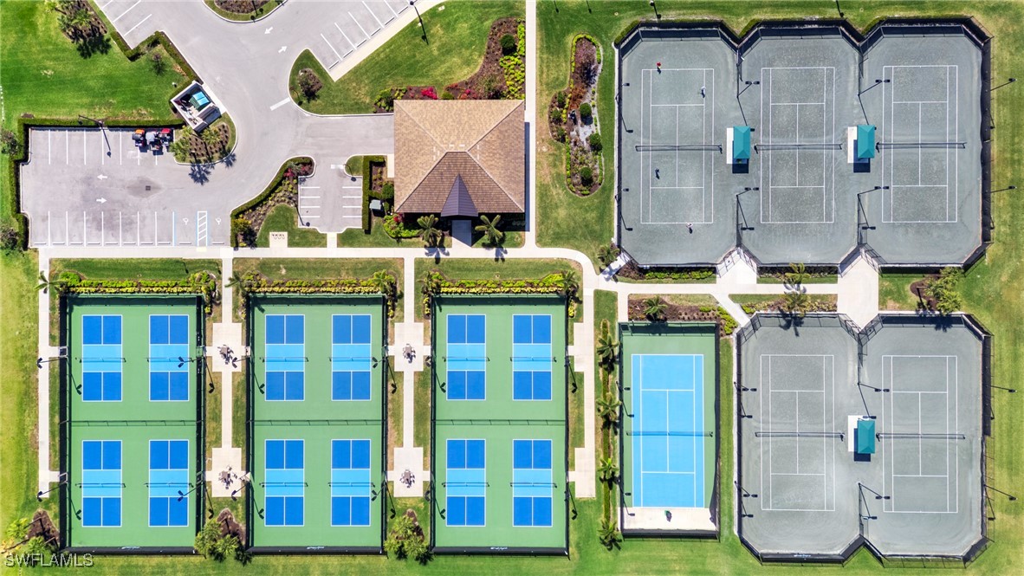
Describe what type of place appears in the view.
sports ground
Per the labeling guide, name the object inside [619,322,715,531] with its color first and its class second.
blue tennis court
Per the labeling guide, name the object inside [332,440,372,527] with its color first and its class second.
blue sports court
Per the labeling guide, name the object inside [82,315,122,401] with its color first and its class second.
blue sports court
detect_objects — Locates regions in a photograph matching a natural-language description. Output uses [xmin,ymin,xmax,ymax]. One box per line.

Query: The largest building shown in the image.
[393,98,526,217]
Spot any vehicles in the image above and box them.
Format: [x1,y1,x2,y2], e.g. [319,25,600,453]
[133,129,147,148]
[161,129,173,148]
[146,131,160,150]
